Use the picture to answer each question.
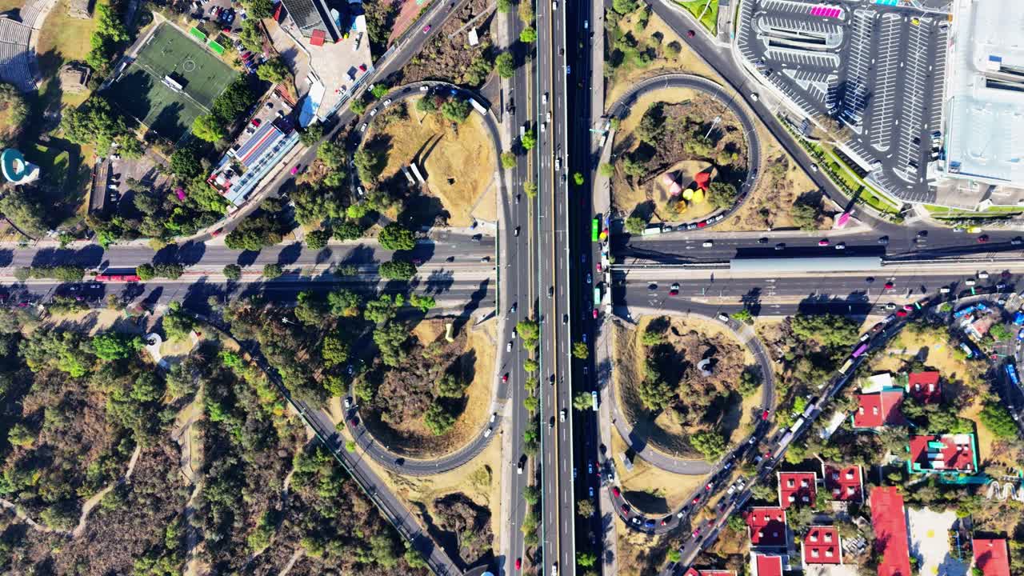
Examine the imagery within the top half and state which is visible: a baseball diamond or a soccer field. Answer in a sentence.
The feature located within the top half is a soccer field.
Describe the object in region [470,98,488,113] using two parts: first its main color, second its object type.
white vehicle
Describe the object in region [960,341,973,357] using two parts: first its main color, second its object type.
white vehicle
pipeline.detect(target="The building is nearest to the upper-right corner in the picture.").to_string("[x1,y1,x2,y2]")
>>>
[927,0,1024,192]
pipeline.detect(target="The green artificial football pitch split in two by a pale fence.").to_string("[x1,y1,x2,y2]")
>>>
[102,21,237,145]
